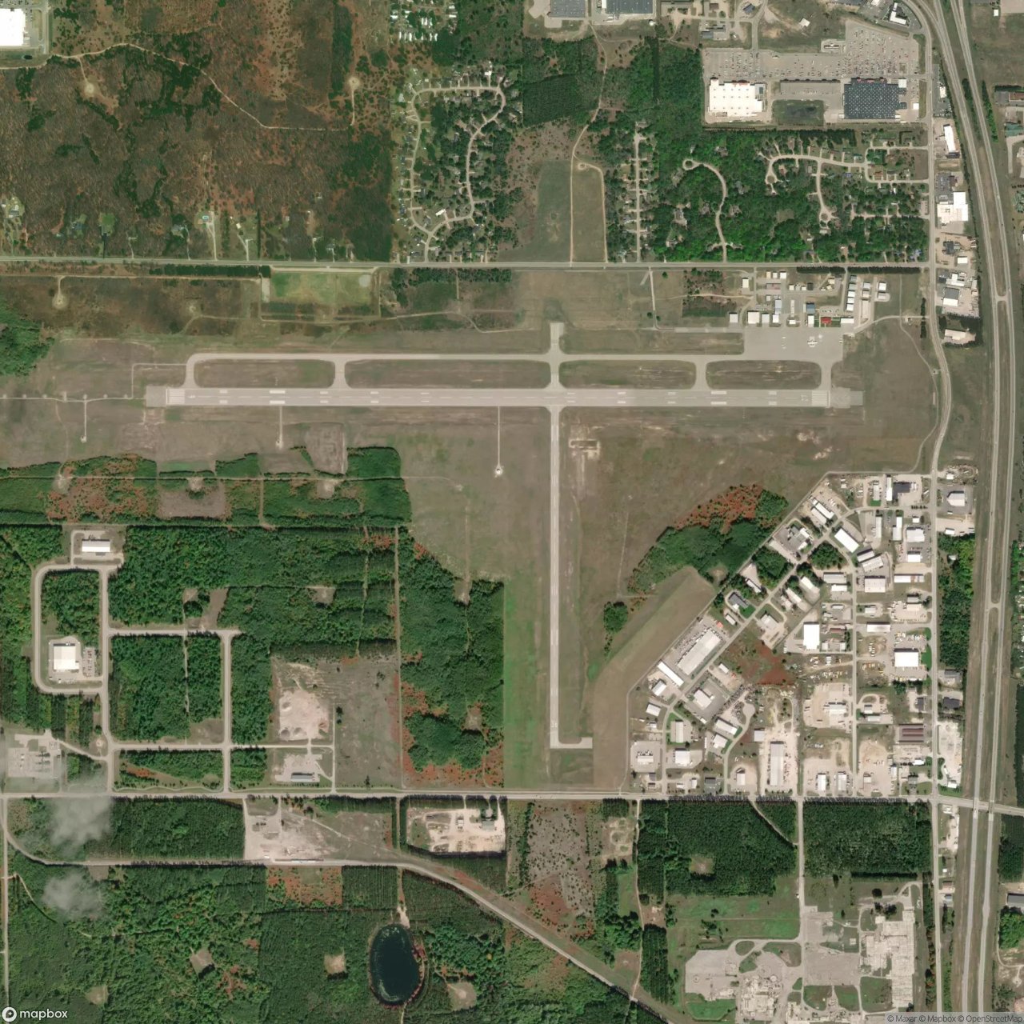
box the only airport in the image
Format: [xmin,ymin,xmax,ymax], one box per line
[146,323,863,749]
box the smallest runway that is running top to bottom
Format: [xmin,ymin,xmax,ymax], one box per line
[545,405,592,749]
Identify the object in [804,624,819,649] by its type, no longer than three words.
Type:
building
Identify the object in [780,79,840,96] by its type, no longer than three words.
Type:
building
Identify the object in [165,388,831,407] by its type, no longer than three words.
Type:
runway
